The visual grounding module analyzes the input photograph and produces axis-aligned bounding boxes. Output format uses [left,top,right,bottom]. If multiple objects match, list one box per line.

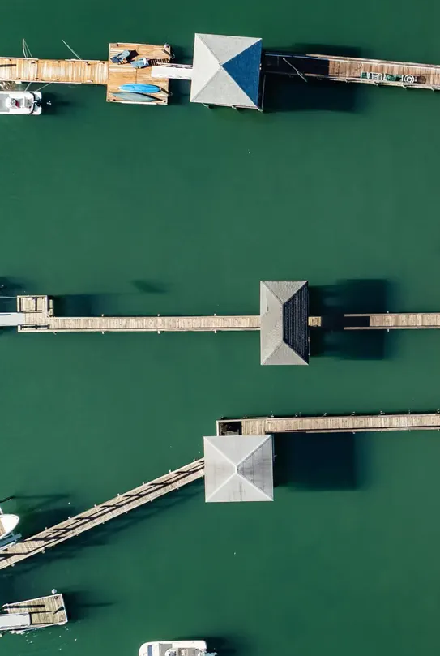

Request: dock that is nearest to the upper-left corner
[0,56,109,86]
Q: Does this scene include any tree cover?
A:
No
